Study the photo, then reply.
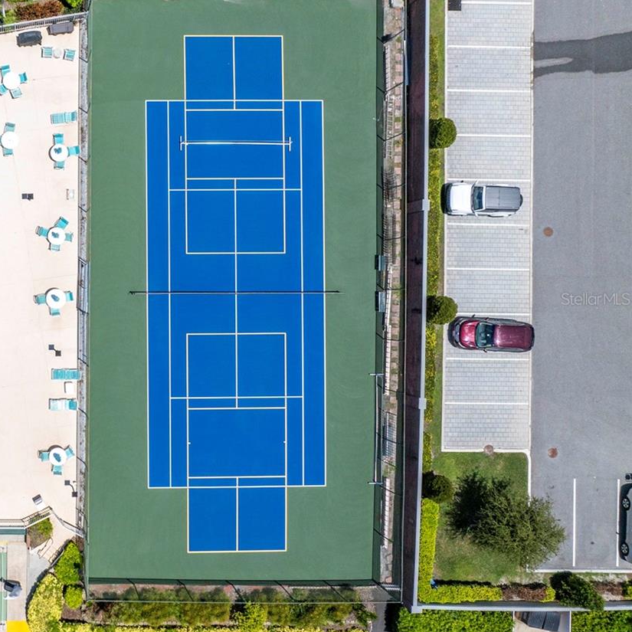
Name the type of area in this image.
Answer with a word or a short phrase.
sports ground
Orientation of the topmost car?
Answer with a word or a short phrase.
horizontally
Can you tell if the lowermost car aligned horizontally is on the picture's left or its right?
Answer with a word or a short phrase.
right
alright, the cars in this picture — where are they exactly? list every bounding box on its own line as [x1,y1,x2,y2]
[448,315,537,353]
[445,178,527,217]
[622,487,632,561]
